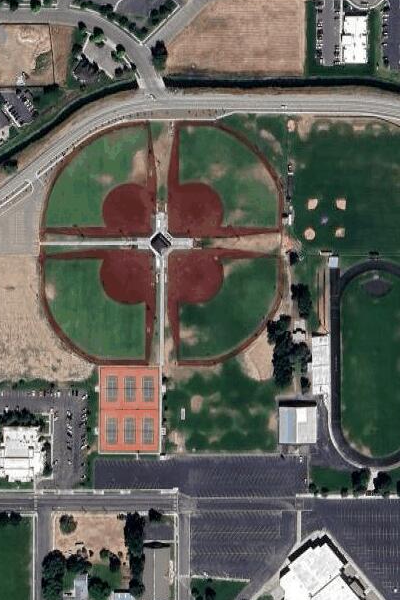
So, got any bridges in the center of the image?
No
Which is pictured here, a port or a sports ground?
sports ground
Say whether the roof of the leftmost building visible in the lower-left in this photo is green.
No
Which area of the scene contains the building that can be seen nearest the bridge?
top left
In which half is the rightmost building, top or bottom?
top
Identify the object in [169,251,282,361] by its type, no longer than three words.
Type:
baseball field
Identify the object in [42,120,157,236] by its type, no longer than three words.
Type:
baseball field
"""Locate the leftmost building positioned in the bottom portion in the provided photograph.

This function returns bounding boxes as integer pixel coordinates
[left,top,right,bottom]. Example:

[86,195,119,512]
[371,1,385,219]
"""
[0,424,48,483]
